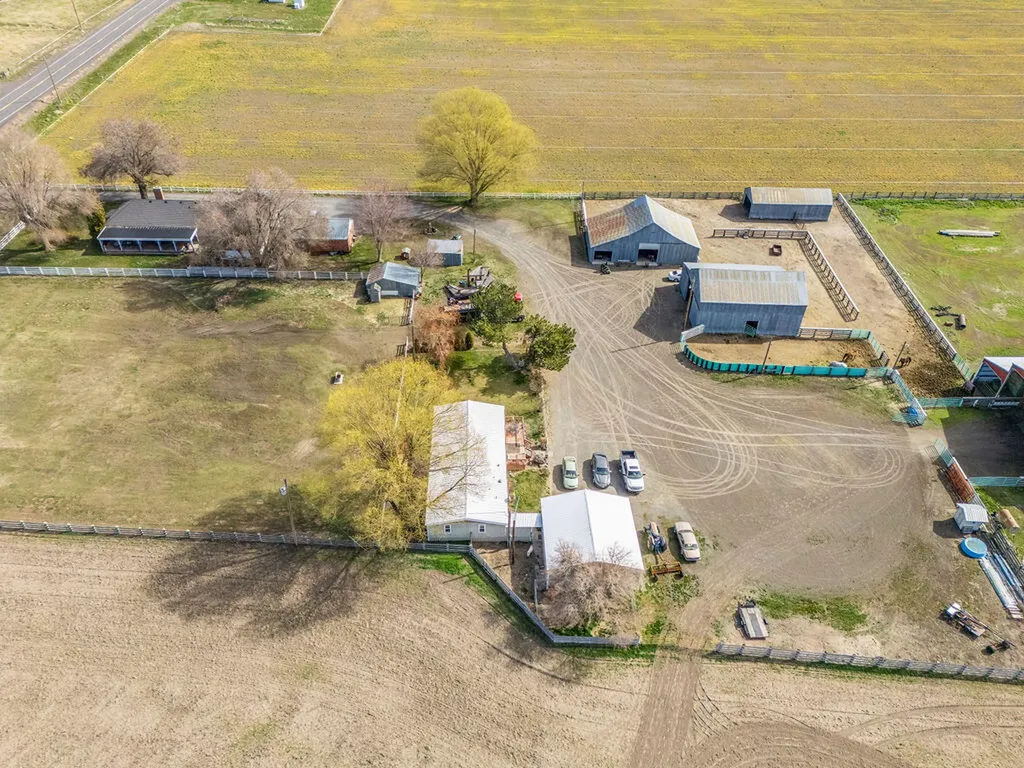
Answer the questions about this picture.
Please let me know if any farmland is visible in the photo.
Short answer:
Yes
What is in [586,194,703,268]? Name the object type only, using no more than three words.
barn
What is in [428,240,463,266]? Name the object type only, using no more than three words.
shed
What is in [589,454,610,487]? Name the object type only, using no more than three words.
car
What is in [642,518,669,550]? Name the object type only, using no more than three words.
work vehicle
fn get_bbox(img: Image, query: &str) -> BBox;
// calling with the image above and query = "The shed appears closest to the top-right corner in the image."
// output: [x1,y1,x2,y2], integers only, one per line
[739,187,832,219]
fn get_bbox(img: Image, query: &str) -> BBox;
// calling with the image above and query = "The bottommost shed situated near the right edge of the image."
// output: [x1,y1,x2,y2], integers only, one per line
[958,504,990,532]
